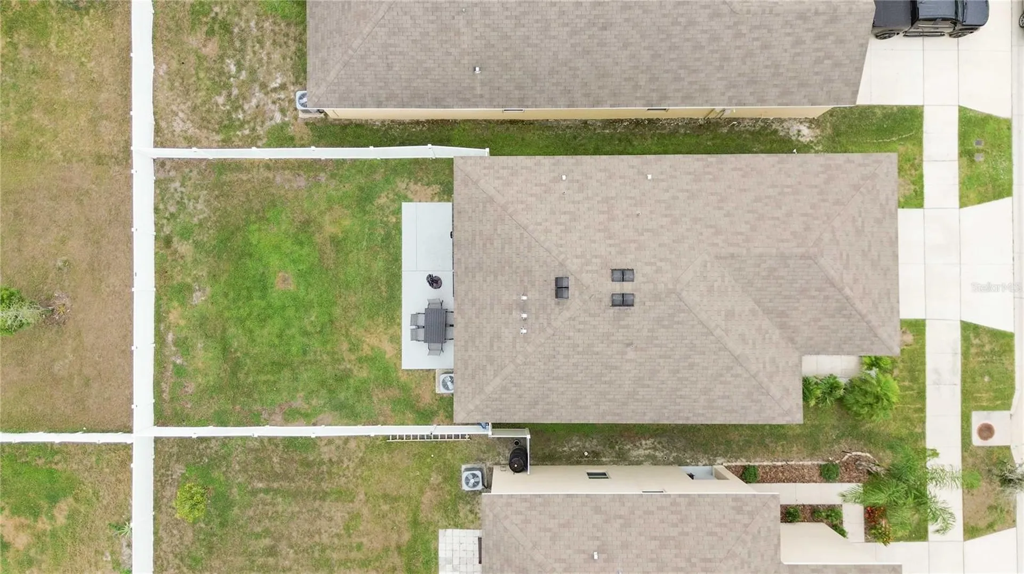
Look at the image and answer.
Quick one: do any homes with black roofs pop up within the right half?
No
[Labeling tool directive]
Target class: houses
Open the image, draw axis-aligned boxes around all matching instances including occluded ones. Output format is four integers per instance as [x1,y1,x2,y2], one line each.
[306,0,873,125]
[452,153,900,424]
[482,464,901,574]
